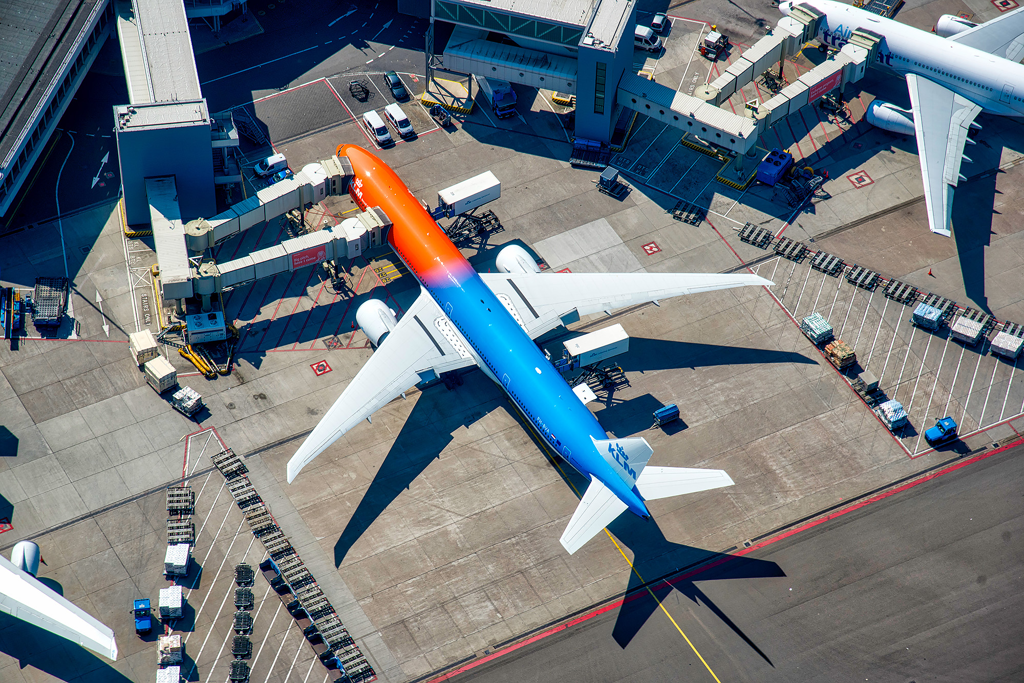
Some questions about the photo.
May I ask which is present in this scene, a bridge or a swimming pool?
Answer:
bridge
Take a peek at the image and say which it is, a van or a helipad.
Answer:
van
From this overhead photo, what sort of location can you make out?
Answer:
airport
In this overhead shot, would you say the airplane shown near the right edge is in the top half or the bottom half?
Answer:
top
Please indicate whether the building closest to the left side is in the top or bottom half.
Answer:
top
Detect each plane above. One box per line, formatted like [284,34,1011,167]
[287,148,774,555]
[0,542,117,661]
[779,0,1024,230]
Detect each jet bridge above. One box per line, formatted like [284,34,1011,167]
[741,26,895,152]
[184,152,360,260]
[190,205,394,314]
[693,0,836,111]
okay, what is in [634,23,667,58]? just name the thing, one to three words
vehicle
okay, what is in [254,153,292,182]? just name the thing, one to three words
van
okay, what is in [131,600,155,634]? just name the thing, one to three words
work vehicle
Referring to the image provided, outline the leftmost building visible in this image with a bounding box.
[0,0,115,214]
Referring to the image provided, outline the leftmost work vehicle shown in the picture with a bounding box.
[0,284,22,336]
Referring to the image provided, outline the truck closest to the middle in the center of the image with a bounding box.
[550,324,629,398]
